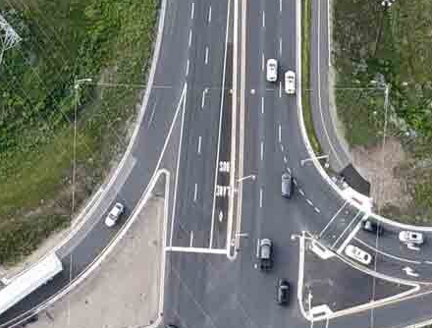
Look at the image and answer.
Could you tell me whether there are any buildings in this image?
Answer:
No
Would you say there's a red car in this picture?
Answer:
No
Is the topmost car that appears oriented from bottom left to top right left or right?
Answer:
left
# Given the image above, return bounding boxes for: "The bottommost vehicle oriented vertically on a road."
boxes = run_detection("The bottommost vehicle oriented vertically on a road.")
[278,279,290,307]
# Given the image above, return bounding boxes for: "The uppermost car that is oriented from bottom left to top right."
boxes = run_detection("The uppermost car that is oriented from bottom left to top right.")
[103,201,124,228]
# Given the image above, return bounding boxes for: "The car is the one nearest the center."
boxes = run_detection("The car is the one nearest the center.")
[281,172,293,199]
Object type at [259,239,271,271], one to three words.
vehicle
